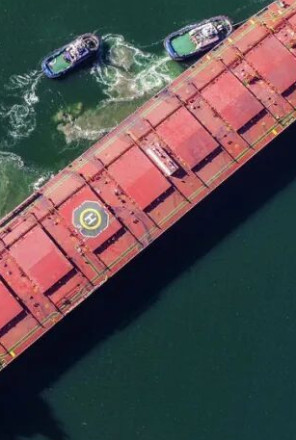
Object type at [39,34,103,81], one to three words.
boat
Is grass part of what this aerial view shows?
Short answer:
No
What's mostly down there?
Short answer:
water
